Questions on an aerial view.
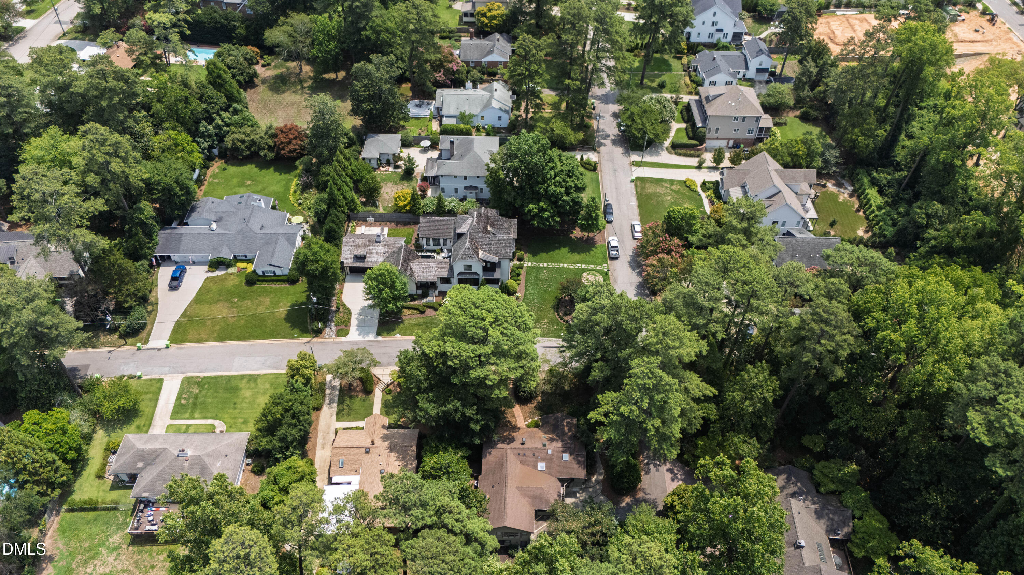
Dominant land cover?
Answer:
trees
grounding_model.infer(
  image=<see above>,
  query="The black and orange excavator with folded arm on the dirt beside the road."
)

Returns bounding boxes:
[974,6,1001,24]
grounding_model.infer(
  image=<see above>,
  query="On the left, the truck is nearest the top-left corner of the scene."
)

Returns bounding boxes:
[167,267,188,290]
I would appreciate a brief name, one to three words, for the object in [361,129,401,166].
house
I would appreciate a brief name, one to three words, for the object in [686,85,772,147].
house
